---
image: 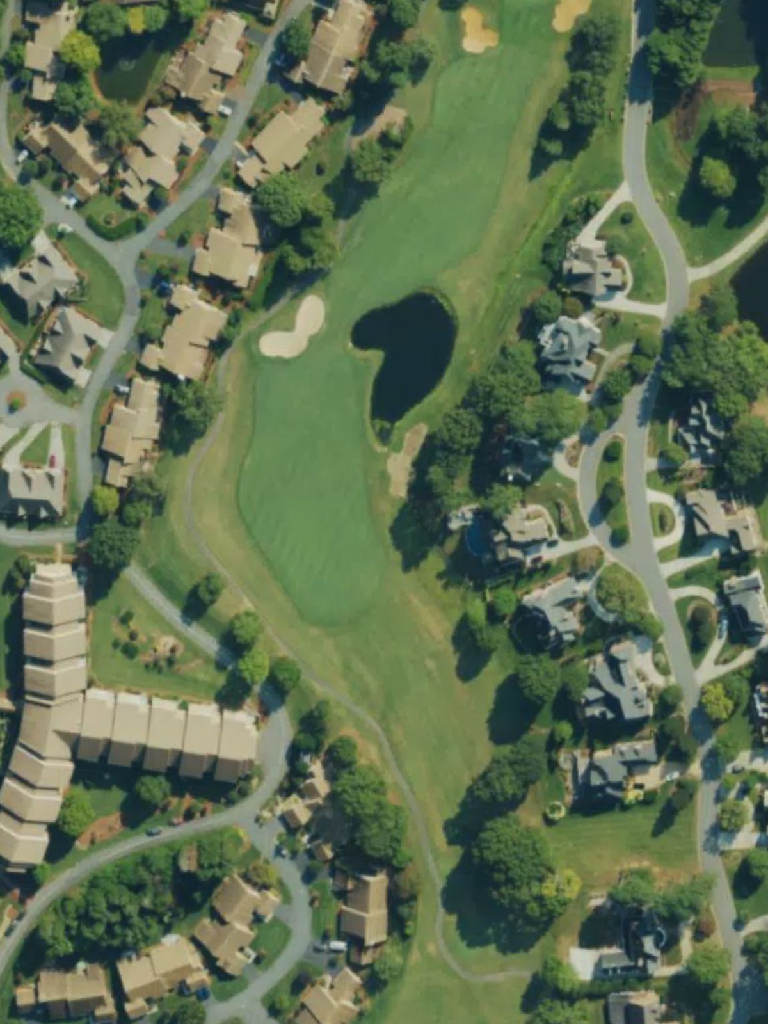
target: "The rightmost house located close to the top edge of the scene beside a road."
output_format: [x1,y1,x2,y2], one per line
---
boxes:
[288,0,378,95]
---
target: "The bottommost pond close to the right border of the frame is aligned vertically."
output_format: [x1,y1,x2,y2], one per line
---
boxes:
[731,243,768,347]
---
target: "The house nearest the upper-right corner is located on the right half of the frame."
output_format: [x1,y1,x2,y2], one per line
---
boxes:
[563,238,623,297]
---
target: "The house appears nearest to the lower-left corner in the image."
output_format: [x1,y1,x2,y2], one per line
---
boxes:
[15,956,117,1021]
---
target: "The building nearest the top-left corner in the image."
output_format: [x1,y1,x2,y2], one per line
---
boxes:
[22,2,79,103]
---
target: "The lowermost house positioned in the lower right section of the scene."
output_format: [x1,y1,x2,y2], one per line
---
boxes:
[608,985,665,1024]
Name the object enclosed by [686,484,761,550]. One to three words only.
house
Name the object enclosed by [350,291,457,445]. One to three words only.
pond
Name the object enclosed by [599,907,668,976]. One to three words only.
house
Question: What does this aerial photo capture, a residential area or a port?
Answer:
residential area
